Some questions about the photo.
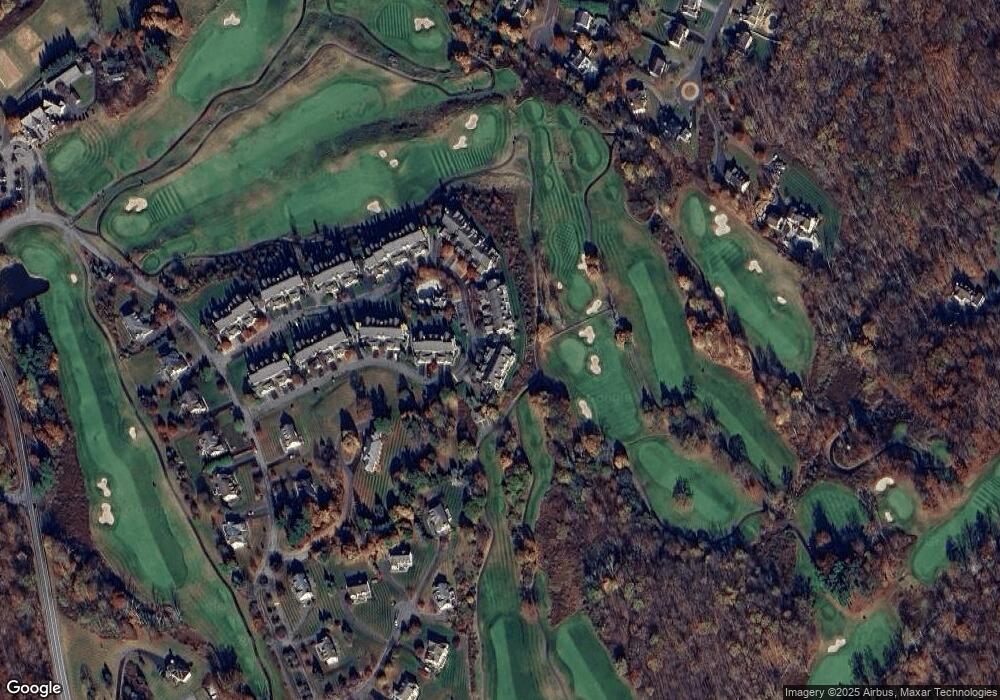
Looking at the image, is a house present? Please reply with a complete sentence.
Yes, the photo shows a house.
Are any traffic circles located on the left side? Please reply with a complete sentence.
No, I can find no traffic circle on the left side.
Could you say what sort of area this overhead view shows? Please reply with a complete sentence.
The picture captures a golf course.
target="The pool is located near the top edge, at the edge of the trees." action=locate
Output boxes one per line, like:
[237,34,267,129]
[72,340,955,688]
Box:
[767,13,780,35]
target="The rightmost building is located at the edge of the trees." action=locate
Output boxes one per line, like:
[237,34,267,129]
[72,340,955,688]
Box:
[951,282,986,309]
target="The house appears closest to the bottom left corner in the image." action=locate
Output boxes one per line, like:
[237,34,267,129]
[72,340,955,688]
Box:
[165,662,194,681]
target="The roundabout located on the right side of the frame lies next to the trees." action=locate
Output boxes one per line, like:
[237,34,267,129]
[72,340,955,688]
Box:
[674,76,705,105]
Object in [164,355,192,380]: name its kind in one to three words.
house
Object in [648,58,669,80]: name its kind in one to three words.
house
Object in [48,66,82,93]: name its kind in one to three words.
barn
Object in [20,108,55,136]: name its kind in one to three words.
building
